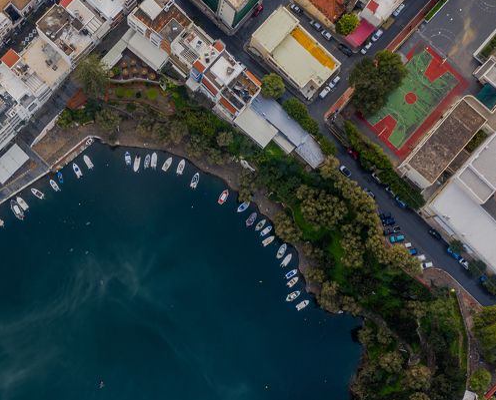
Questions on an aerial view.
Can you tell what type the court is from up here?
basketball court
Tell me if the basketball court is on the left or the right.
right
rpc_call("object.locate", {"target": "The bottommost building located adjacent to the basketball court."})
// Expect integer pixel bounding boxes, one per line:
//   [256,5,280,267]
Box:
[418,179,496,277]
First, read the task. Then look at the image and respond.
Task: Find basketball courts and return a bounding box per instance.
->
[354,42,469,158]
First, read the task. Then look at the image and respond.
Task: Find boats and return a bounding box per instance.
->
[134,154,142,172]
[151,152,158,170]
[190,173,200,189]
[255,220,266,231]
[236,202,249,213]
[31,188,46,200]
[218,189,228,205]
[73,164,83,179]
[145,154,151,170]
[11,200,26,221]
[285,277,299,289]
[295,300,310,312]
[52,180,62,192]
[177,159,186,176]
[284,269,298,280]
[246,212,257,227]
[279,254,292,268]
[260,226,271,237]
[18,196,31,212]
[285,291,301,303]
[161,157,172,173]
[263,236,274,244]
[275,244,287,260]
[84,155,95,170]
